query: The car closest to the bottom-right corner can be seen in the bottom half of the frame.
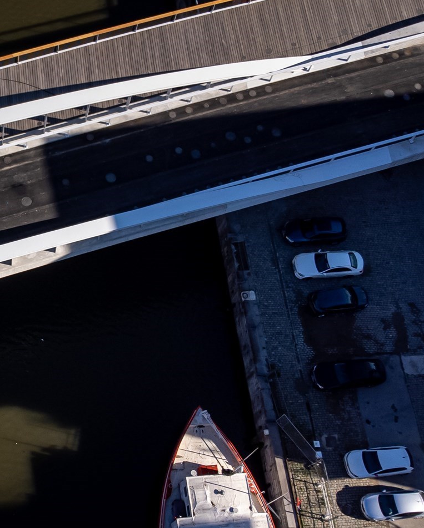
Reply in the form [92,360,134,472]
[358,486,424,525]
